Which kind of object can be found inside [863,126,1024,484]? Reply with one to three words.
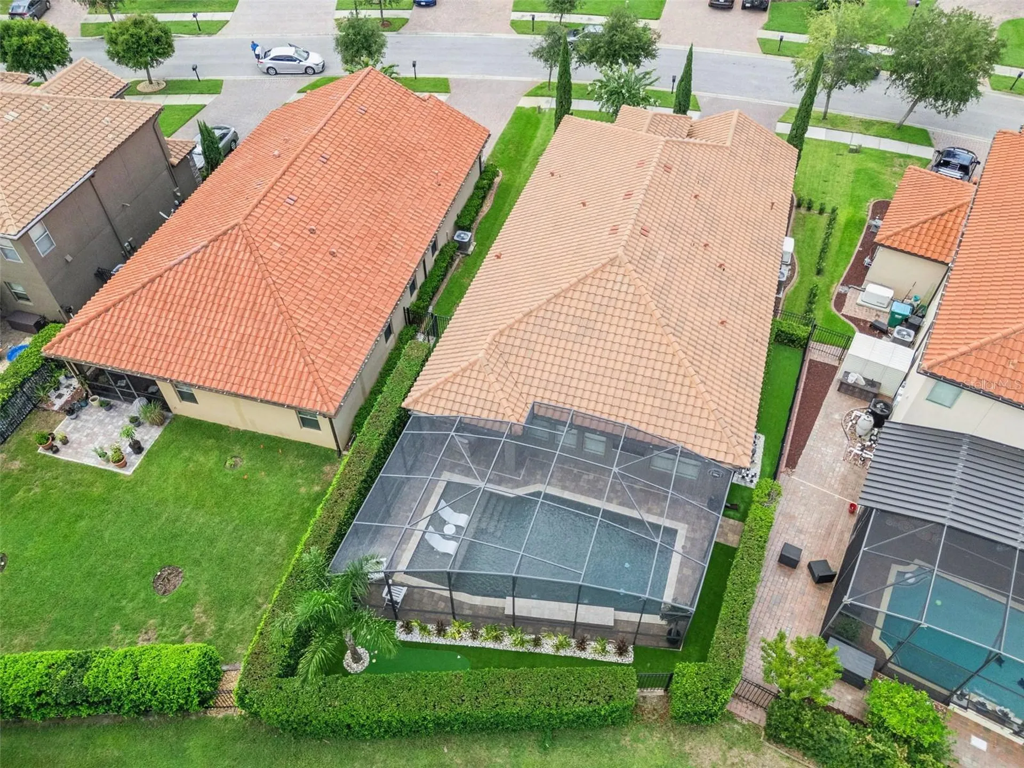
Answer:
house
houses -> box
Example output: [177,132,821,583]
[403,102,802,499]
[40,64,493,460]
[863,126,1024,484]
